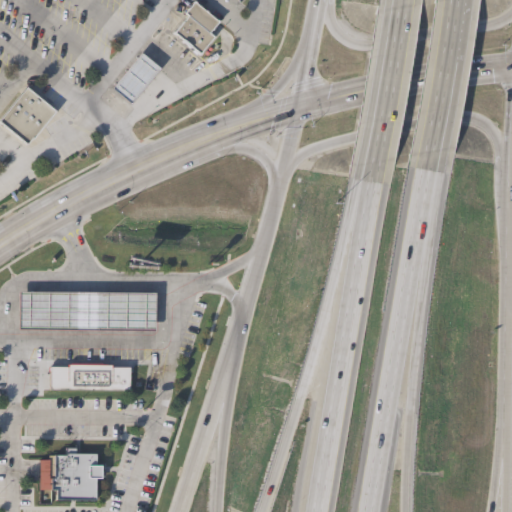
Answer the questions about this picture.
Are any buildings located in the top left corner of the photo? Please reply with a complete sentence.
Yes, a building can be seen in the top left corner of the photo.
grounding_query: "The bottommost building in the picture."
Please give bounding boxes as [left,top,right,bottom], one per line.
[41,448,104,504]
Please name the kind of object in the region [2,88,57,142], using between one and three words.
building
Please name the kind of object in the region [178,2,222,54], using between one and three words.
building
